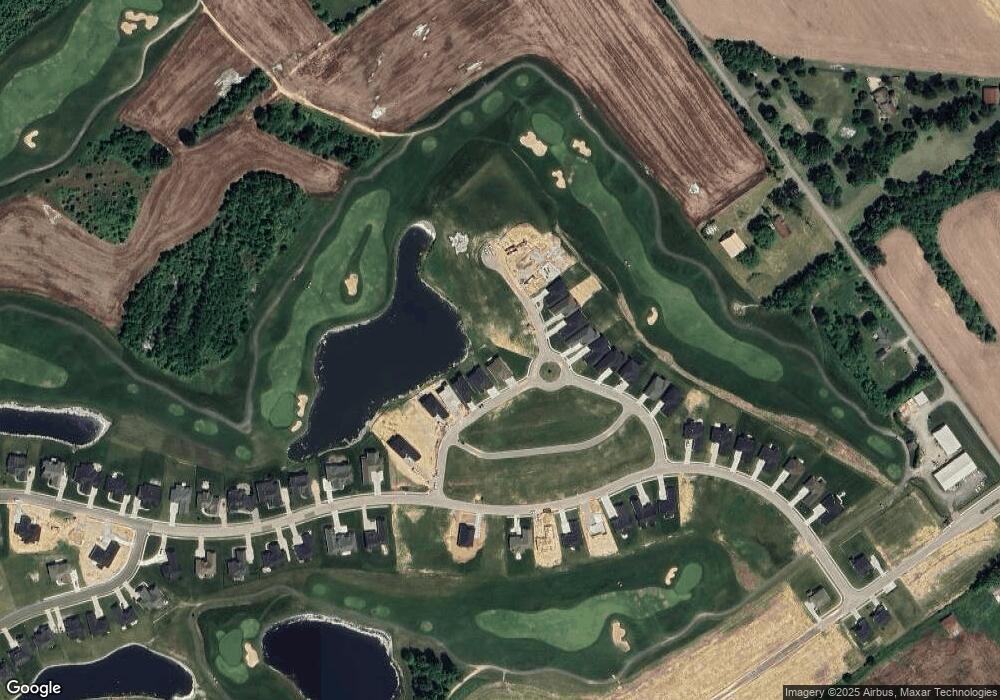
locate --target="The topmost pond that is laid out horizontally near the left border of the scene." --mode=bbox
[0,408,102,445]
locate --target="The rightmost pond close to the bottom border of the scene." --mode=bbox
[263,618,398,700]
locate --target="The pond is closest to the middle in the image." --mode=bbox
[289,226,468,460]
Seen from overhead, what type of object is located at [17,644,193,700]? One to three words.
pond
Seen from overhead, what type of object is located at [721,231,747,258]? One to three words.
barn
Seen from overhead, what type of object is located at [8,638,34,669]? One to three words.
house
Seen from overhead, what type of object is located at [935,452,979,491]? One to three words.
shed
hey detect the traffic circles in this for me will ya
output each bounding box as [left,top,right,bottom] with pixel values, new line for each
[530,352,569,391]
